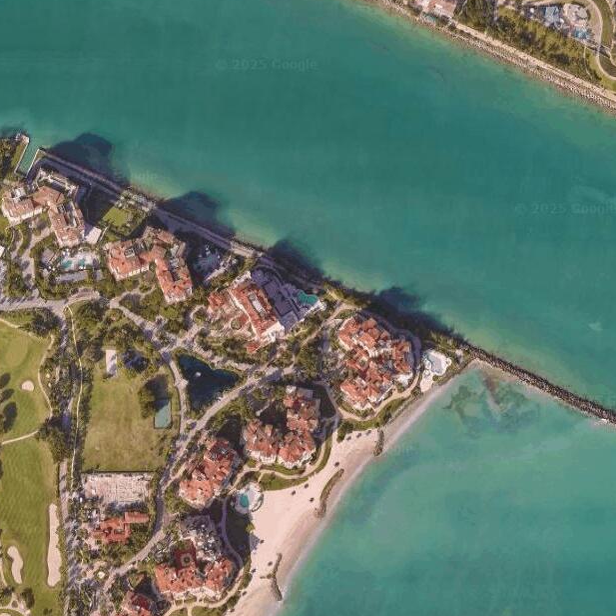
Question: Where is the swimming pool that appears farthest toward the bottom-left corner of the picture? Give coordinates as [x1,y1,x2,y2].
[234,481,263,513]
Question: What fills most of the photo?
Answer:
water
